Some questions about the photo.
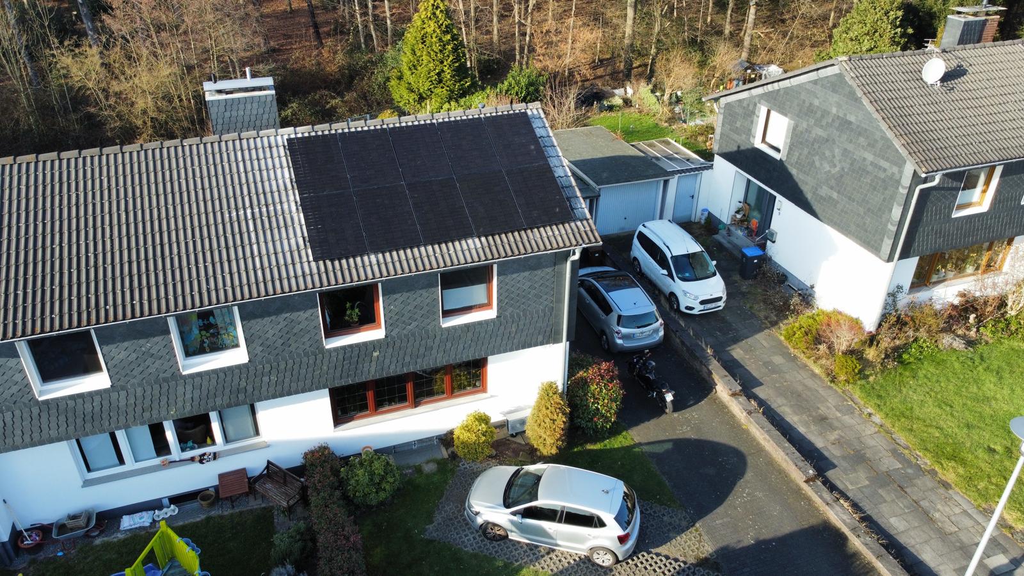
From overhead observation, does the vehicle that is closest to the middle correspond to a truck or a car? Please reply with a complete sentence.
I'd identify the vehicle that is closest to the middle as a car.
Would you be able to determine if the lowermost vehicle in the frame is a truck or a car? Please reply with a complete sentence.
In the photo, the lowermost vehicle shows up as a car.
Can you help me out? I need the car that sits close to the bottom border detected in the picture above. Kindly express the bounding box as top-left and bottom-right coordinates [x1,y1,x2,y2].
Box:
[465,457,644,567]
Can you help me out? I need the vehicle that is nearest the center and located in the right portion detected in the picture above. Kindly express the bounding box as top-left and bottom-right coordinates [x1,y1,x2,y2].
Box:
[577,266,664,351]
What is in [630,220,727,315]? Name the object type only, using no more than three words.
van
